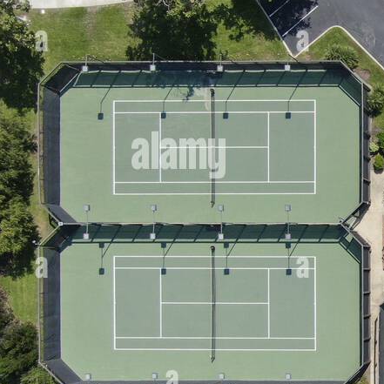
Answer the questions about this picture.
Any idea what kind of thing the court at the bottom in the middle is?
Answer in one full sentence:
I'd say the court at the bottom in the middle is a tennis court.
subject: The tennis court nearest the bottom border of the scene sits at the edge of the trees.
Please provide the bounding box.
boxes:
[60,226,369,382]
